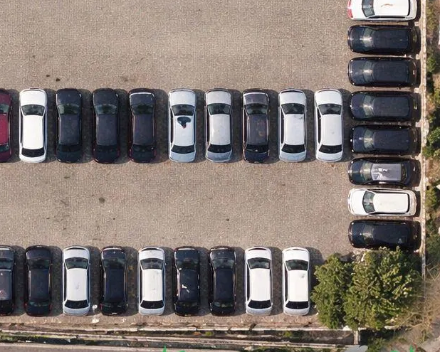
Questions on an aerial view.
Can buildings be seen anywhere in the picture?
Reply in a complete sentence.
No, the photo shows no building.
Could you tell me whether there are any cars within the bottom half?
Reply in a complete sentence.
Yes, there is a car within the bottom half.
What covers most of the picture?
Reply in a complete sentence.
The scene is dominated by paved ground.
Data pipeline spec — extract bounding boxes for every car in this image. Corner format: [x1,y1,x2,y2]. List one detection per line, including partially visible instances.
[98,245,128,318]
[62,244,91,317]
[282,244,313,317]
[347,187,420,218]
[204,89,235,165]
[314,89,345,164]
[168,89,198,164]
[349,90,420,123]
[347,55,420,89]
[245,244,274,317]
[138,244,168,317]
[172,244,202,317]
[347,23,420,55]
[18,86,48,163]
[277,86,309,163]
[240,89,271,164]
[23,245,52,318]
[346,157,419,187]
[54,87,84,164]
[90,87,121,164]
[0,245,16,318]
[349,124,420,157]
[127,87,157,164]
[347,0,420,21]
[0,87,13,164]
[347,218,419,250]
[208,244,238,317]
